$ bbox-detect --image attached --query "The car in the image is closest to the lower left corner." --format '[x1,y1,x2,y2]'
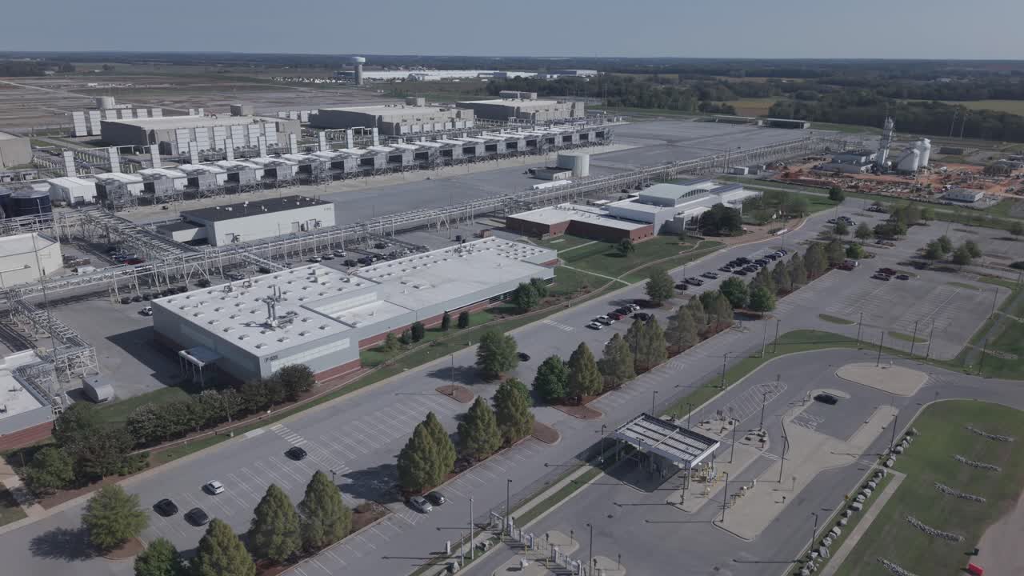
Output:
[156,500,178,516]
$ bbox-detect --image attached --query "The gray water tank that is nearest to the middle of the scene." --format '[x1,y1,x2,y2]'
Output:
[561,150,587,176]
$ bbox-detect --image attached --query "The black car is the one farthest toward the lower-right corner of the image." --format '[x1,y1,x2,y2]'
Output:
[814,391,838,404]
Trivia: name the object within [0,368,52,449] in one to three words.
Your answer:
building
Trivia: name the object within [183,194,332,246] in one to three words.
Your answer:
building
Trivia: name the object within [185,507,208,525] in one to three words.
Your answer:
car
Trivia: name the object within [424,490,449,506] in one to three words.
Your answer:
car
